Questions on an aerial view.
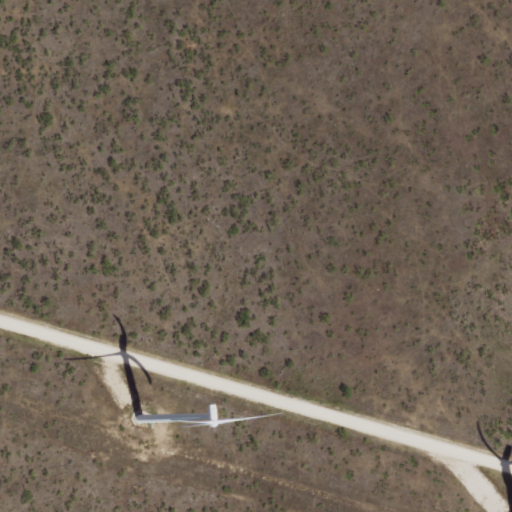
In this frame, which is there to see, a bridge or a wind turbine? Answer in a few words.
wind turbine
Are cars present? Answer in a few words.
No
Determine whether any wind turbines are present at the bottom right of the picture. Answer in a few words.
No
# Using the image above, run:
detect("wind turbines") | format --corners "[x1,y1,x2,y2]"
[131,403,264,428]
